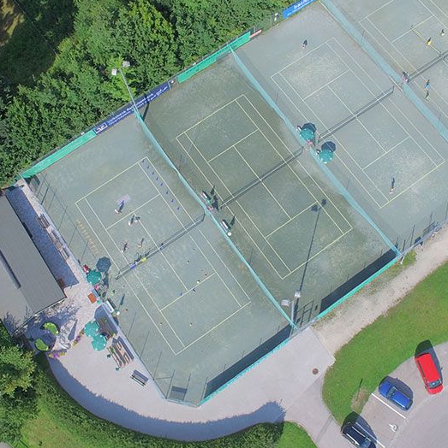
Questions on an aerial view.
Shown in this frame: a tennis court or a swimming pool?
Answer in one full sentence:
I can see a tennis court in this picture.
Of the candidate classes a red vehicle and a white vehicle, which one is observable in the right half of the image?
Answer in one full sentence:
What appears in the right half of the image is a red vehicle.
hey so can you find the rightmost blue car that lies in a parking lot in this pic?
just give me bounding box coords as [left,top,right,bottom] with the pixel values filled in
[377,379,414,412]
